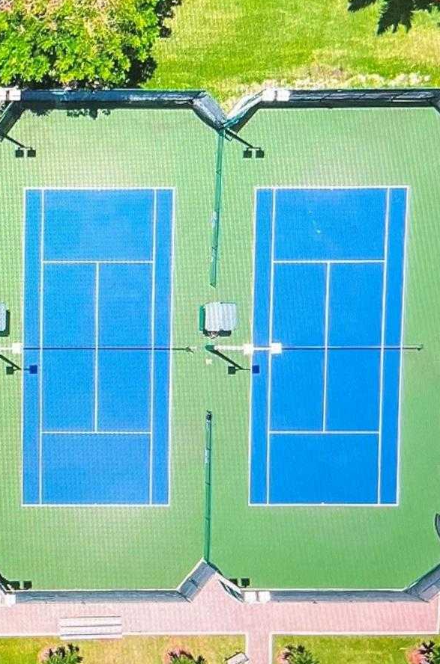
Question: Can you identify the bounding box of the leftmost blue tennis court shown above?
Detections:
[22,187,176,506]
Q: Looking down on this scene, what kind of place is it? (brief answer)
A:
sports ground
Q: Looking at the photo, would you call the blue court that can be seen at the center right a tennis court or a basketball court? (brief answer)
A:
tennis court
